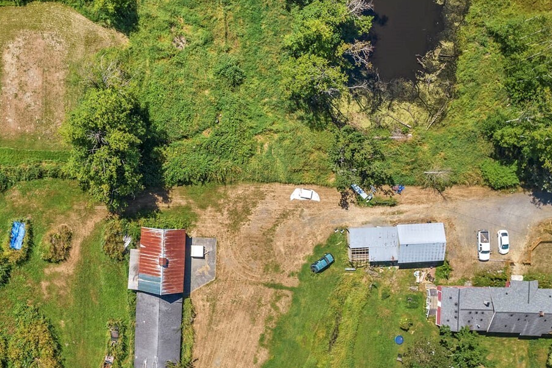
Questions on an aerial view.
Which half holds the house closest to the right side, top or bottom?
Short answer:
bottom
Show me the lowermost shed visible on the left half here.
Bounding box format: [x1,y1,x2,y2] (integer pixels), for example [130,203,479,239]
[135,292,182,368]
